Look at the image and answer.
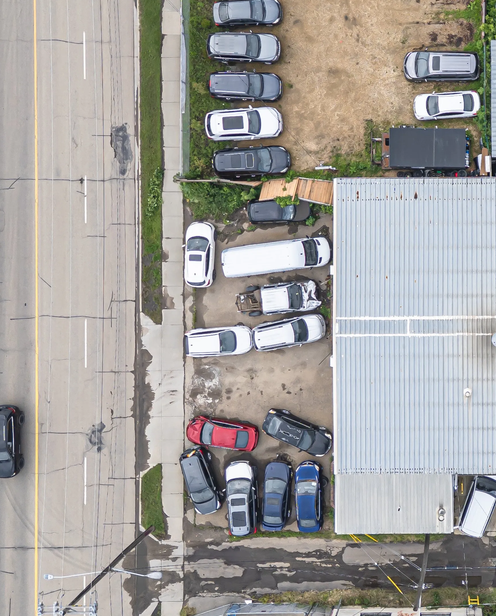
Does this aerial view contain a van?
Yes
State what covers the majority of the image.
paved ground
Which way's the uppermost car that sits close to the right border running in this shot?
from side to side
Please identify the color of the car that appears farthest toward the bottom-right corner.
white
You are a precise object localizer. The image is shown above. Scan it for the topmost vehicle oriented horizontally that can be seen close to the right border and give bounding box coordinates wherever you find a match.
[405,47,478,83]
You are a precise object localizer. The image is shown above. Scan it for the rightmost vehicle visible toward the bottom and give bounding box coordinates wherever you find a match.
[456,475,496,545]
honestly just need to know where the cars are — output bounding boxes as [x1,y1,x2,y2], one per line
[291,458,326,532]
[181,221,216,288]
[262,406,333,457]
[205,105,284,141]
[405,47,478,83]
[260,458,294,531]
[175,444,225,514]
[456,475,496,545]
[223,458,260,536]
[246,198,312,231]
[213,0,284,28]
[207,68,284,104]
[252,315,328,353]
[0,404,25,477]
[182,324,254,361]
[414,88,481,123]
[212,143,292,179]
[206,29,283,64]
[188,415,261,450]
